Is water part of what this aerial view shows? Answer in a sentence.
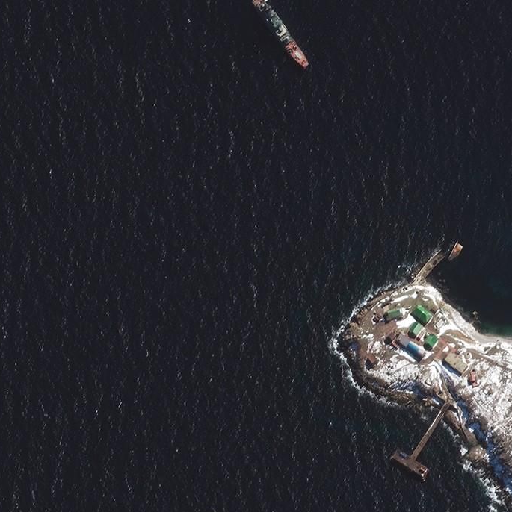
Yes, water can be seen from above here.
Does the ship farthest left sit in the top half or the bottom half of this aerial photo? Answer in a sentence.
The ship farthest left is in the top half of the image.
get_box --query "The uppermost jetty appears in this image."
[413,250,444,285]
